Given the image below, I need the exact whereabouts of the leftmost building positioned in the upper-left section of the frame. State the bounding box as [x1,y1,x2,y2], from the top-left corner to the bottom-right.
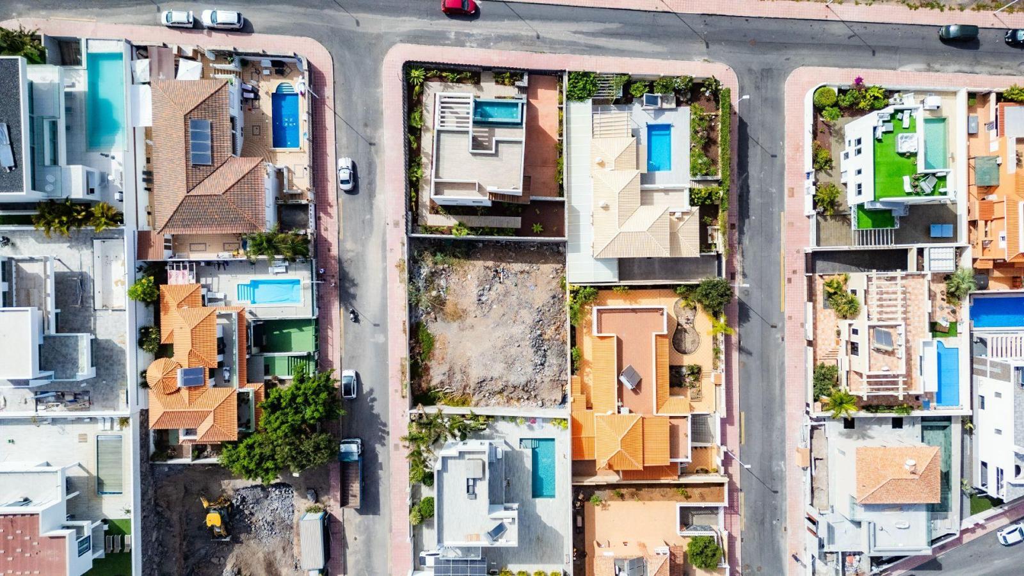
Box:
[0,56,97,201]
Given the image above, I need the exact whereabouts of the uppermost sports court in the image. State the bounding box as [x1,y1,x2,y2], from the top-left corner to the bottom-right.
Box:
[260,319,317,353]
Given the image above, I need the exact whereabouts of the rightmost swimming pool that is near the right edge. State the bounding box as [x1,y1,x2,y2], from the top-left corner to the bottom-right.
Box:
[970,295,1024,328]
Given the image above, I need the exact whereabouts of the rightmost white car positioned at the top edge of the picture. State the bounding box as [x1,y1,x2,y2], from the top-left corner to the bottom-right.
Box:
[203,10,244,30]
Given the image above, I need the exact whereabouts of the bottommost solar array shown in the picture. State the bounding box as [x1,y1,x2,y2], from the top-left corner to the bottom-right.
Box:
[434,550,488,576]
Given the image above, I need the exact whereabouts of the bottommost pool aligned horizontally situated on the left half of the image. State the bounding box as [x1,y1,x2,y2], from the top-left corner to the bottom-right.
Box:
[234,276,304,307]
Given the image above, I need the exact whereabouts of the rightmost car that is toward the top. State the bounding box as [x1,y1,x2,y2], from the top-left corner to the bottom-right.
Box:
[998,27,1024,47]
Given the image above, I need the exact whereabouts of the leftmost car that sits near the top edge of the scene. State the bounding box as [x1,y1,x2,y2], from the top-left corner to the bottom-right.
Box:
[162,10,195,28]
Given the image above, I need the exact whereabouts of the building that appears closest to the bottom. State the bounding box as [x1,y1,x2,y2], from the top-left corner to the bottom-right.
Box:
[593,537,684,576]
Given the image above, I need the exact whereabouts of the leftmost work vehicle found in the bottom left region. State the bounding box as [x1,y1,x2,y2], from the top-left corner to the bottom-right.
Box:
[195,489,234,545]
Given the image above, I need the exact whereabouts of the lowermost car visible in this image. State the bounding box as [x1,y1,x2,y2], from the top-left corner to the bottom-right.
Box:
[419,550,440,569]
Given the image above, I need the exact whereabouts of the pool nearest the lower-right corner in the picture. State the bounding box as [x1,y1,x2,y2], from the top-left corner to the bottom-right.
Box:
[920,418,952,508]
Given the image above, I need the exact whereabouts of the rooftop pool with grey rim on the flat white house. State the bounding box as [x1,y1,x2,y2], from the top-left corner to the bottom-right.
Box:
[473,99,524,123]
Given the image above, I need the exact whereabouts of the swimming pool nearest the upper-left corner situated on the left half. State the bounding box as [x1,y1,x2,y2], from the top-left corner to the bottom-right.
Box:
[85,50,126,152]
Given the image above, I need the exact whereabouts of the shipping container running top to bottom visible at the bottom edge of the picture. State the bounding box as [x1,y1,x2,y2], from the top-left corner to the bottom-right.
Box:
[302,509,330,572]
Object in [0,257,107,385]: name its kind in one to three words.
house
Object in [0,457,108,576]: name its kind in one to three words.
house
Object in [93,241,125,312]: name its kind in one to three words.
swimming pool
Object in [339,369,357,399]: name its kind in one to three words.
car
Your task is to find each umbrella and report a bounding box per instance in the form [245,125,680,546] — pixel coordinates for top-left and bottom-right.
[180,58,204,79]
[131,59,150,84]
